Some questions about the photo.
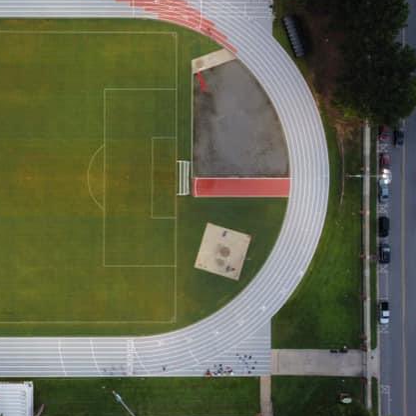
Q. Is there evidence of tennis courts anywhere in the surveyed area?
No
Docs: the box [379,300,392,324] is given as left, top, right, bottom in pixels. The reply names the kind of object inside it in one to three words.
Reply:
vehicle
